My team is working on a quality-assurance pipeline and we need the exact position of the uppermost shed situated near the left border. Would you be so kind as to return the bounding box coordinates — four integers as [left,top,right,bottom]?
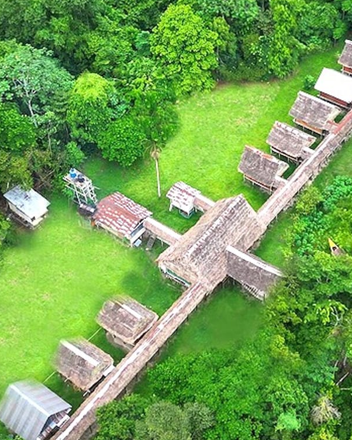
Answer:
[0,180,55,236]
